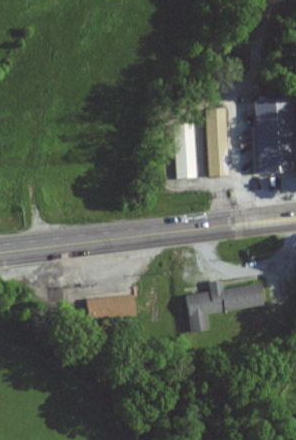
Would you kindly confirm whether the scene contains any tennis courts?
No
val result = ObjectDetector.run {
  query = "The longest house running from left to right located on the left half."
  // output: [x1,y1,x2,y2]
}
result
[86,296,136,320]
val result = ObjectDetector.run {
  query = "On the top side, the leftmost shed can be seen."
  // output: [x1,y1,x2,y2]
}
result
[175,122,198,180]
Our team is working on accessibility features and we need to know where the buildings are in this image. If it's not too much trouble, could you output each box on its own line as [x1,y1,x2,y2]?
[86,296,136,320]
[175,122,198,180]
[206,108,228,178]
[253,102,296,174]
[186,280,262,332]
